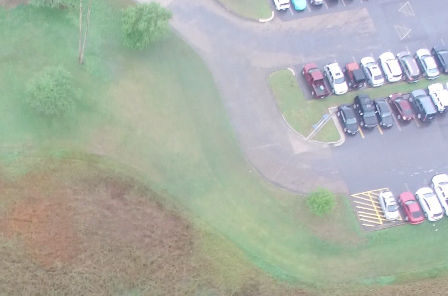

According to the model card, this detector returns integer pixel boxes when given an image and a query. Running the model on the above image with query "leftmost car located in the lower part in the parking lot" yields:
[375,188,401,222]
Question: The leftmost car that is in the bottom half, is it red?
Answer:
No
